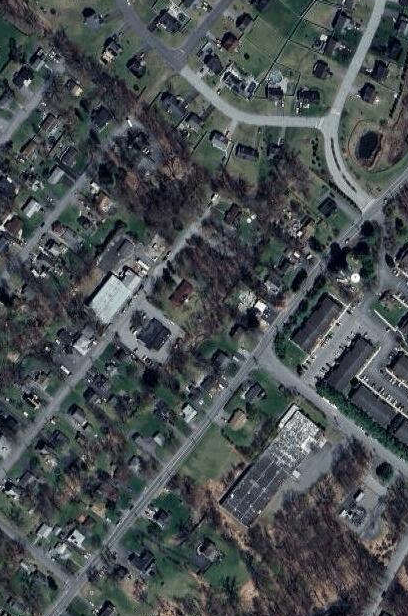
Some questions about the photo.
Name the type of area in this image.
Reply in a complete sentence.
The area seen from above is a residential area.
